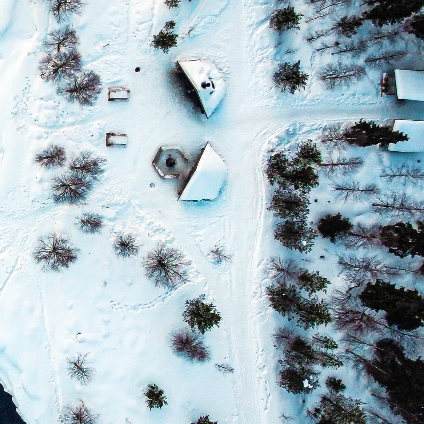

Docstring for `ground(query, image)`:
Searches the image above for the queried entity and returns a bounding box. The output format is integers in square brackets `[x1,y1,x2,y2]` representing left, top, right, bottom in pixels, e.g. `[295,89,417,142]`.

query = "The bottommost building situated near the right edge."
[385,119,424,153]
